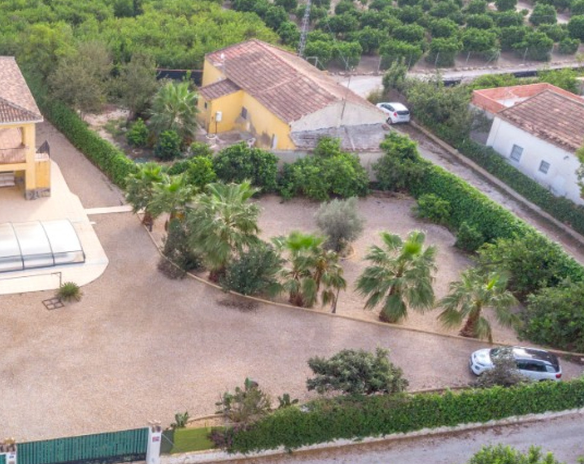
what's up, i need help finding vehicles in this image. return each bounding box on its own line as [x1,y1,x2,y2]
[377,101,415,123]
[464,334,567,379]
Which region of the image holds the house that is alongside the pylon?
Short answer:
top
